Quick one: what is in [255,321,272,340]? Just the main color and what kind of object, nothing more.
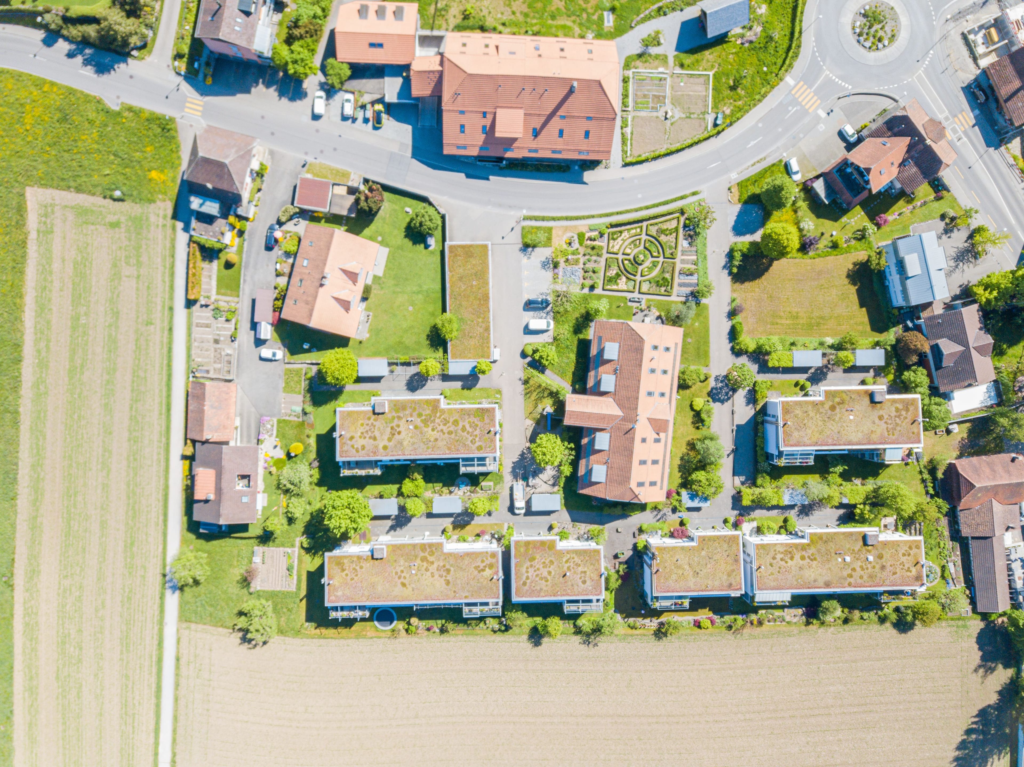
white camper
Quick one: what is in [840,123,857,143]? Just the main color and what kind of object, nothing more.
white car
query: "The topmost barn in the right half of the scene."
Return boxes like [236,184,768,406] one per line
[695,0,749,42]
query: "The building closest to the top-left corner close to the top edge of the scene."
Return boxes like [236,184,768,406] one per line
[195,0,279,68]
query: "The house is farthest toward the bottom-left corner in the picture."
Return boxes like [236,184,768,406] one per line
[193,442,265,533]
